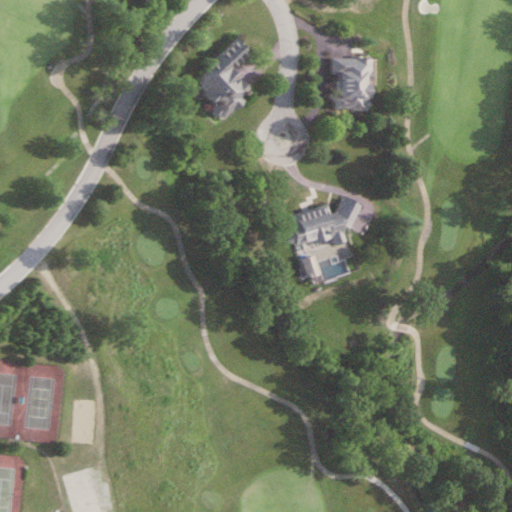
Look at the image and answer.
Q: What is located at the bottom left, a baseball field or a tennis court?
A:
tennis court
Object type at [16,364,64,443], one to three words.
tennis court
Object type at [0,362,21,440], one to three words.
tennis court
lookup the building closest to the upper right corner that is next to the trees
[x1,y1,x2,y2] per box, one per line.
[328,56,378,113]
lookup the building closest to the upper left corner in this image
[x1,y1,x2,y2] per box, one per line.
[198,40,252,124]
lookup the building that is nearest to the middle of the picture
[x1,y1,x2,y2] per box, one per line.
[297,253,320,280]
